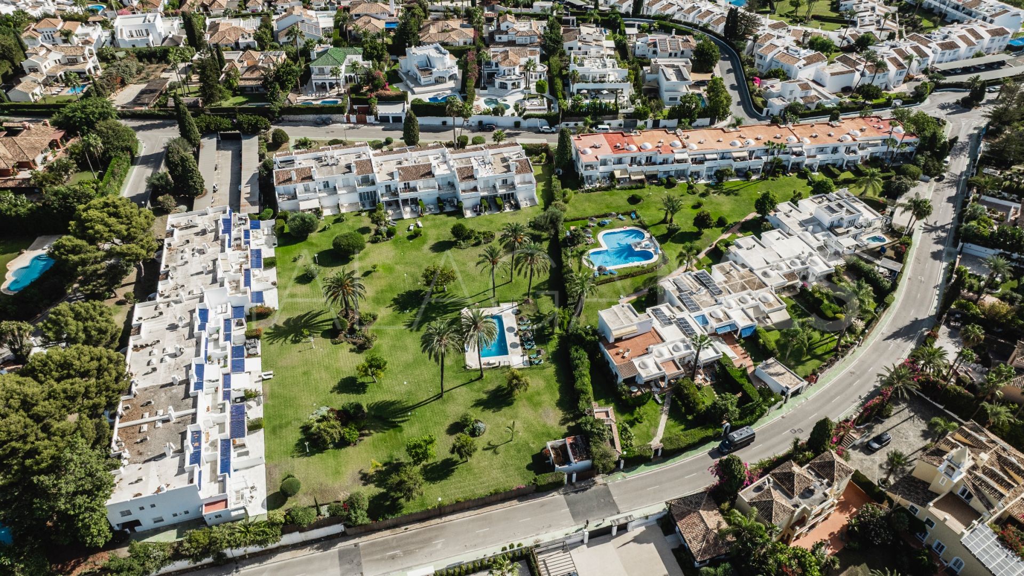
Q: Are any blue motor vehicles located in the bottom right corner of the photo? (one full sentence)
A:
No, I see no blue motor vehicle in the bottom right corner of the photo.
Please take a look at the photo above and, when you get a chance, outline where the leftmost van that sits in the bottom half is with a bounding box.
[719,427,759,455]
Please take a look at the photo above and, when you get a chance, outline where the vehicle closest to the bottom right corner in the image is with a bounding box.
[867,432,896,452]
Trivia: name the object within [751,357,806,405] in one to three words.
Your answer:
building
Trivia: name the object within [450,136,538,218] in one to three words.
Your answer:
house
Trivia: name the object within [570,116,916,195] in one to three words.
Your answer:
building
